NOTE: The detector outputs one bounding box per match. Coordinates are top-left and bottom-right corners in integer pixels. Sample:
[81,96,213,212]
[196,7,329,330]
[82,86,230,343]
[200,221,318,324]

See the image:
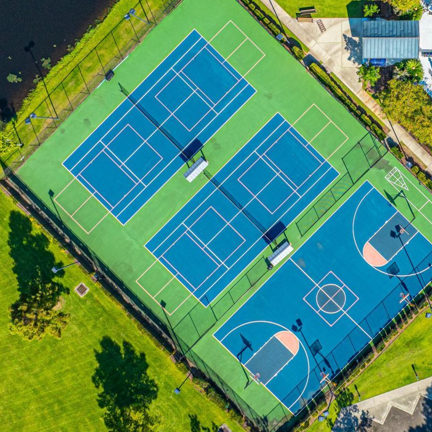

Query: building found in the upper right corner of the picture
[362,19,420,62]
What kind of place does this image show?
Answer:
sports ground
